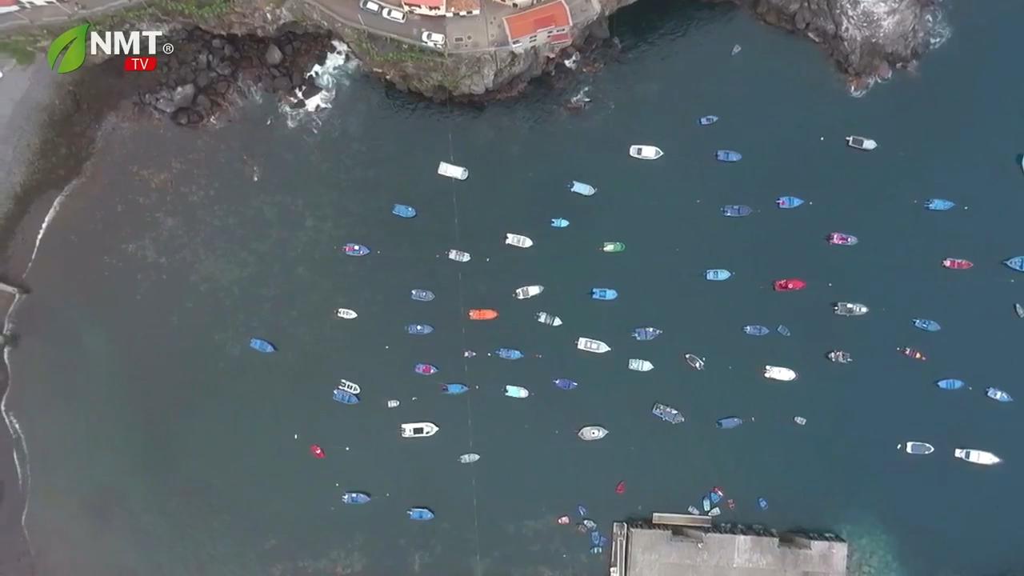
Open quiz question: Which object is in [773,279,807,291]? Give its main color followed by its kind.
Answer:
red boat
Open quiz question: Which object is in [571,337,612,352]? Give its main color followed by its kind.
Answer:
white boat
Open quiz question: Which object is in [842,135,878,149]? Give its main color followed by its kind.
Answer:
white boat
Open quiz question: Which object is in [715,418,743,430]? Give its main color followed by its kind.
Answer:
blue boat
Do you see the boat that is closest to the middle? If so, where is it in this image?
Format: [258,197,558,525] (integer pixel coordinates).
[510,287,543,300]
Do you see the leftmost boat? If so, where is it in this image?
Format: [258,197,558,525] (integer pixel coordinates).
[247,337,274,351]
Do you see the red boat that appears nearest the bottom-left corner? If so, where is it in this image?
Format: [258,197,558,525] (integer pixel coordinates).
[310,443,324,457]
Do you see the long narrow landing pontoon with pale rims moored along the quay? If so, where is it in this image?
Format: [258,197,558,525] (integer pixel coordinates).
[652,511,711,527]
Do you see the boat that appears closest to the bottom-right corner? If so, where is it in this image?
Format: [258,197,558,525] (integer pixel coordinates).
[953,450,1006,466]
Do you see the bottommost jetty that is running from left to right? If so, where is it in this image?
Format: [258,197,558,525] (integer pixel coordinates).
[626,521,847,576]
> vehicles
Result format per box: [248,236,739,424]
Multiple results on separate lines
[421,29,445,43]
[380,6,406,23]
[357,0,382,14]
